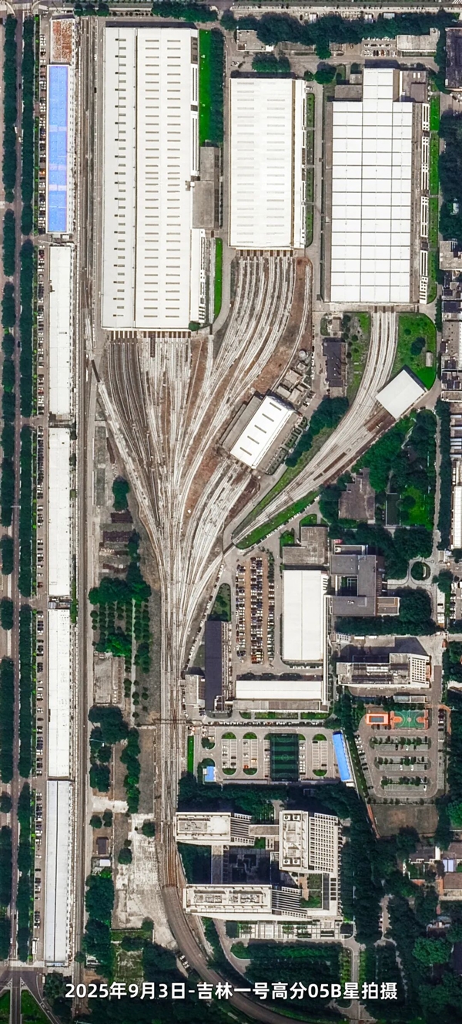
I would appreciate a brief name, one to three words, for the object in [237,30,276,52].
building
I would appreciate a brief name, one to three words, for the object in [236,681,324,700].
building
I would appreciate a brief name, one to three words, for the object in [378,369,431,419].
shed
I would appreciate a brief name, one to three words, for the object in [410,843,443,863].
house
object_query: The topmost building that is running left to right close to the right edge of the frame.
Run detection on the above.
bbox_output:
[397,28,443,51]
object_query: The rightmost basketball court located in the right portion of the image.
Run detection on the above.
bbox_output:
[391,710,429,729]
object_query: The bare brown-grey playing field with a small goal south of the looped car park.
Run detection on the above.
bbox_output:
[373,804,438,835]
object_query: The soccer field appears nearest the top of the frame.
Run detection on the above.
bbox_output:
[268,733,299,780]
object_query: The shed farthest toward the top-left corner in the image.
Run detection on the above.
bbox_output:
[50,19,76,64]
